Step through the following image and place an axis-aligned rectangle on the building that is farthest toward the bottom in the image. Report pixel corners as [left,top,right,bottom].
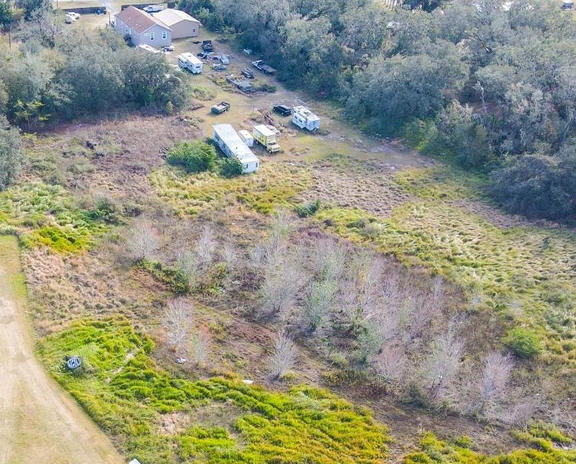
[212,125,263,171]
